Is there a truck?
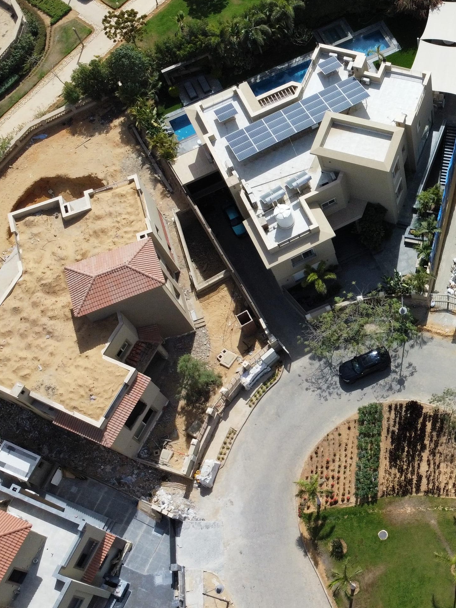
No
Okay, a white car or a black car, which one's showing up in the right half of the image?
black car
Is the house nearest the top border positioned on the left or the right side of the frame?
right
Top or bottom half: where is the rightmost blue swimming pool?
top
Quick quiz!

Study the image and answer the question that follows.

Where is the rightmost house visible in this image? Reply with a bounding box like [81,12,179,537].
[169,43,435,290]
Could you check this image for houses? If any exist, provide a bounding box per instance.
[0,174,190,455]
[169,43,435,290]
[0,442,137,608]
